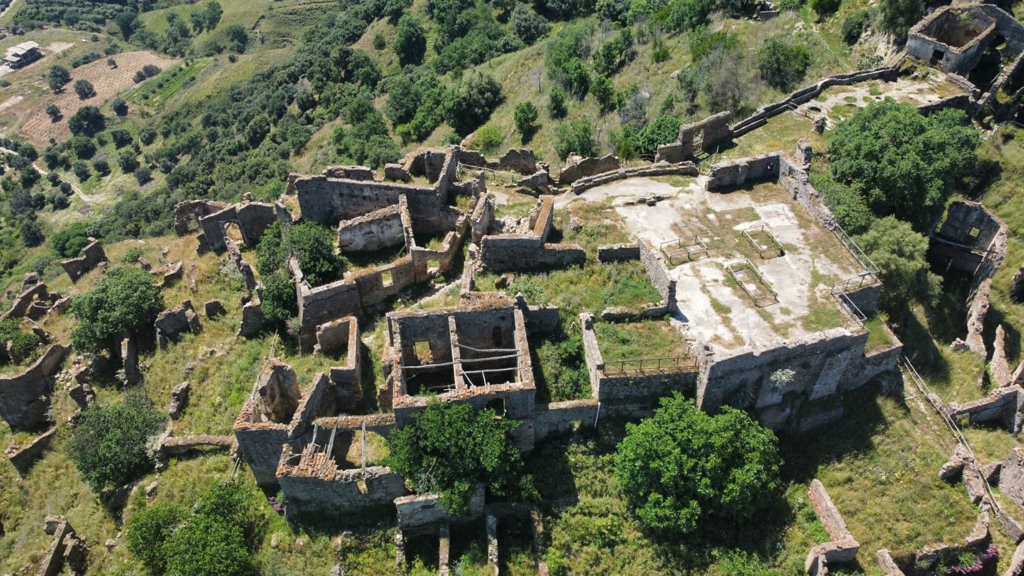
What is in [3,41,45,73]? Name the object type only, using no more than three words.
house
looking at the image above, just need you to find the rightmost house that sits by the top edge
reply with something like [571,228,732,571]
[901,5,999,83]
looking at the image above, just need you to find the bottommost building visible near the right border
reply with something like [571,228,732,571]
[934,381,1024,444]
